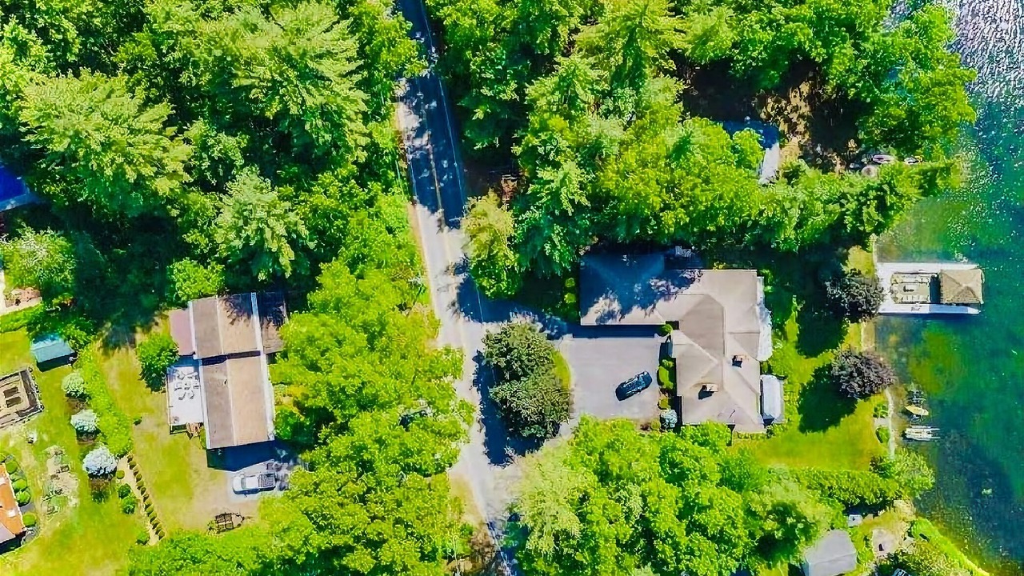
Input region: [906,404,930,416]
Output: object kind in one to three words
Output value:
boat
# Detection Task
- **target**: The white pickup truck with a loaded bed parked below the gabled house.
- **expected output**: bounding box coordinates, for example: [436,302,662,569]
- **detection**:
[231,473,277,495]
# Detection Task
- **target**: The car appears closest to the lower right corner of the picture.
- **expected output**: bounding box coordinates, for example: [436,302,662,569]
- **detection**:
[616,373,654,402]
